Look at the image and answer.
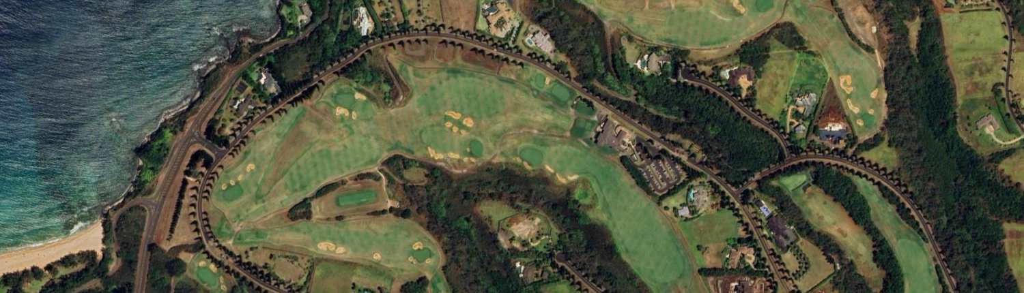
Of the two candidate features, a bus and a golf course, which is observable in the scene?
golf course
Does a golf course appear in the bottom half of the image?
Yes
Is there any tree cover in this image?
Yes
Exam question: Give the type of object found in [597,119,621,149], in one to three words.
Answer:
building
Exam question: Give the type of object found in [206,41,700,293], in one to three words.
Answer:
golf course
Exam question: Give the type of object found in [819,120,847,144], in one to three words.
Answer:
house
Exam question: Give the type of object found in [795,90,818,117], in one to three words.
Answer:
house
